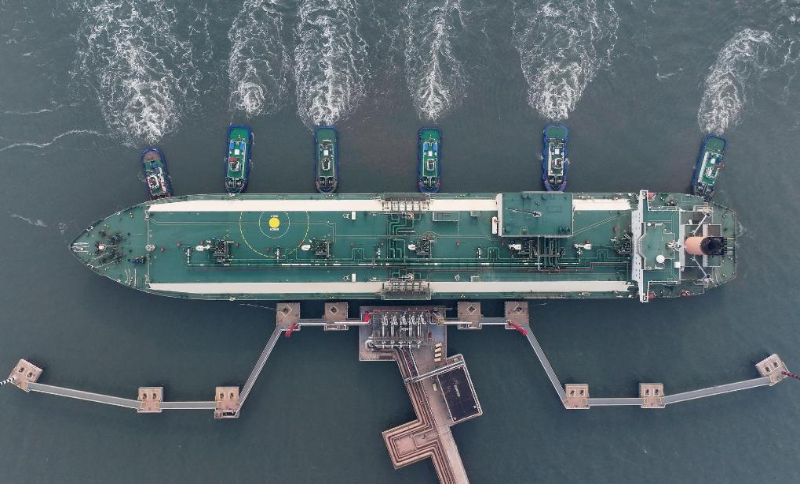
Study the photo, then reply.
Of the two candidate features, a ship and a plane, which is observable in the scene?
ship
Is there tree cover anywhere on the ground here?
No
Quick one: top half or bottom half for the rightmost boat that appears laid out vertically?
top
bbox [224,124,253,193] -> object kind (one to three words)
boat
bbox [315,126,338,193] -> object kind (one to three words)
boat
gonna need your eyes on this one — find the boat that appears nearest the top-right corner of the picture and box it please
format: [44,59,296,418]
[692,134,726,199]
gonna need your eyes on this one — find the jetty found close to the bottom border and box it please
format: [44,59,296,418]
[360,307,483,484]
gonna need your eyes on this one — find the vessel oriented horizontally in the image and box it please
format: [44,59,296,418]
[70,190,736,302]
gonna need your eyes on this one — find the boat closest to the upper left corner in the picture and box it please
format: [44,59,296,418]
[141,147,173,199]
